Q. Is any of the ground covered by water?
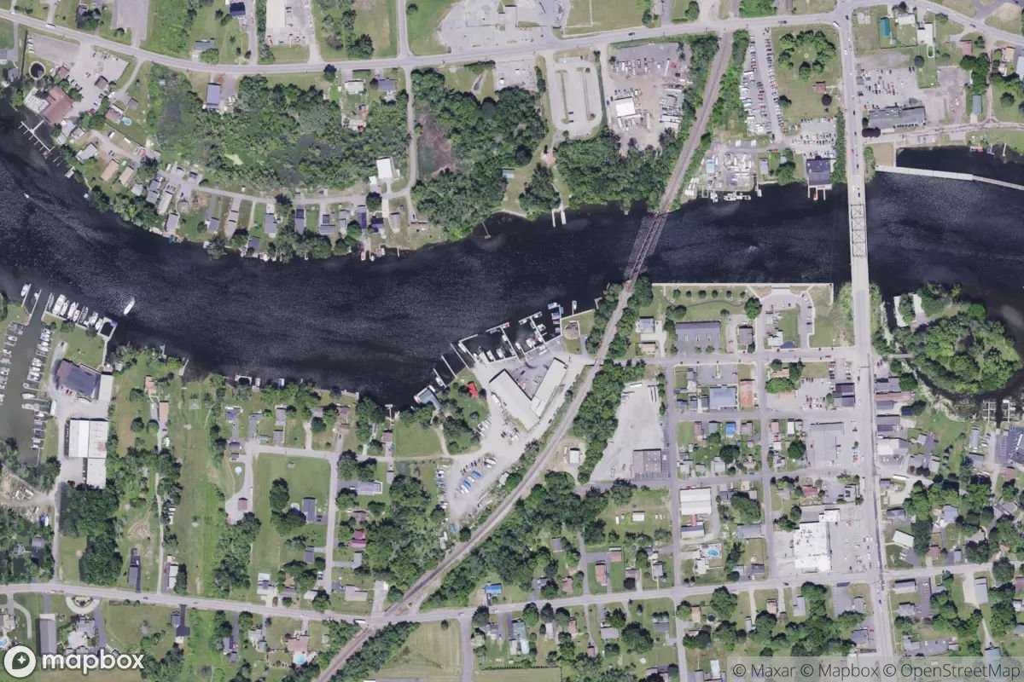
Yes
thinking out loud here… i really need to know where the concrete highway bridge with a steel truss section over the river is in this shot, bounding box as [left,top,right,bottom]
[848,179,871,285]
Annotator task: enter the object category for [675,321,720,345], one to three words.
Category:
building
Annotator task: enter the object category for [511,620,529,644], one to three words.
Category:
house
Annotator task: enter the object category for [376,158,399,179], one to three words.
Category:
barn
